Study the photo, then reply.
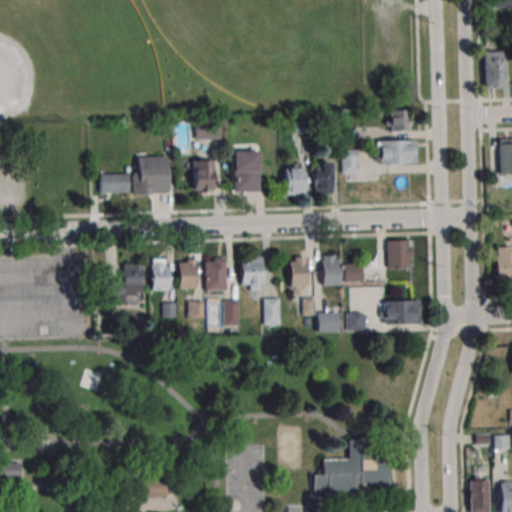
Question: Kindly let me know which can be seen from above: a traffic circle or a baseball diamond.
baseball diamond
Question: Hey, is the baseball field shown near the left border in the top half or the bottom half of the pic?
top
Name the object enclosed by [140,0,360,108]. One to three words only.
baseball field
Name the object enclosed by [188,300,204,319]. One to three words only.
building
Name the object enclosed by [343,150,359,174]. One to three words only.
building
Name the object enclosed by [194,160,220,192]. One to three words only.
house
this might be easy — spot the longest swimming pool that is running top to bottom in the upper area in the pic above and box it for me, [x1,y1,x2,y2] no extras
[176,120,192,156]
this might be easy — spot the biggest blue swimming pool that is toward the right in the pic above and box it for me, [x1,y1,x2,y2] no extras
[394,176,408,190]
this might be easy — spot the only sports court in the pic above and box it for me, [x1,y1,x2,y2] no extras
[277,424,302,470]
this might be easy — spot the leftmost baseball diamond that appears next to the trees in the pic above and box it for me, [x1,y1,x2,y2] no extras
[0,0,164,118]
